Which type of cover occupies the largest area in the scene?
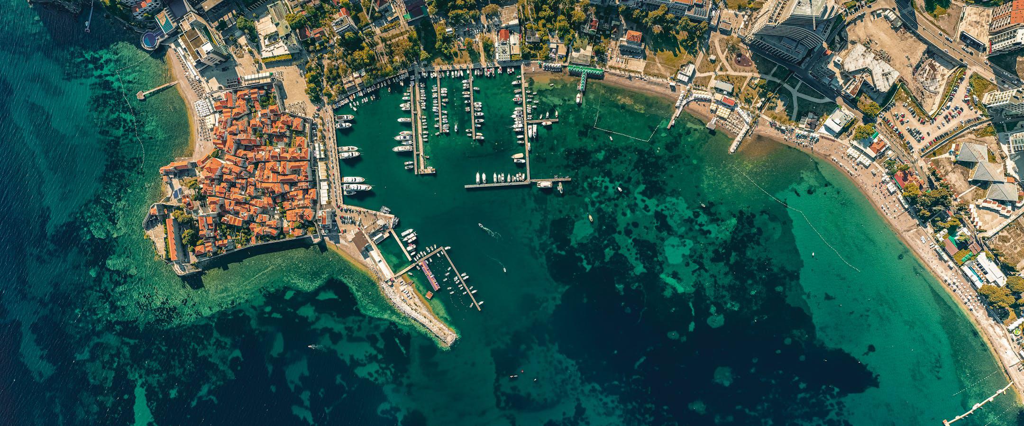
water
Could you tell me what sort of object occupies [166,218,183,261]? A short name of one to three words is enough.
building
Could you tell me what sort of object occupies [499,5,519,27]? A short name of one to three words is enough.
house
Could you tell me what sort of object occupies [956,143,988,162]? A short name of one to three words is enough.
building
